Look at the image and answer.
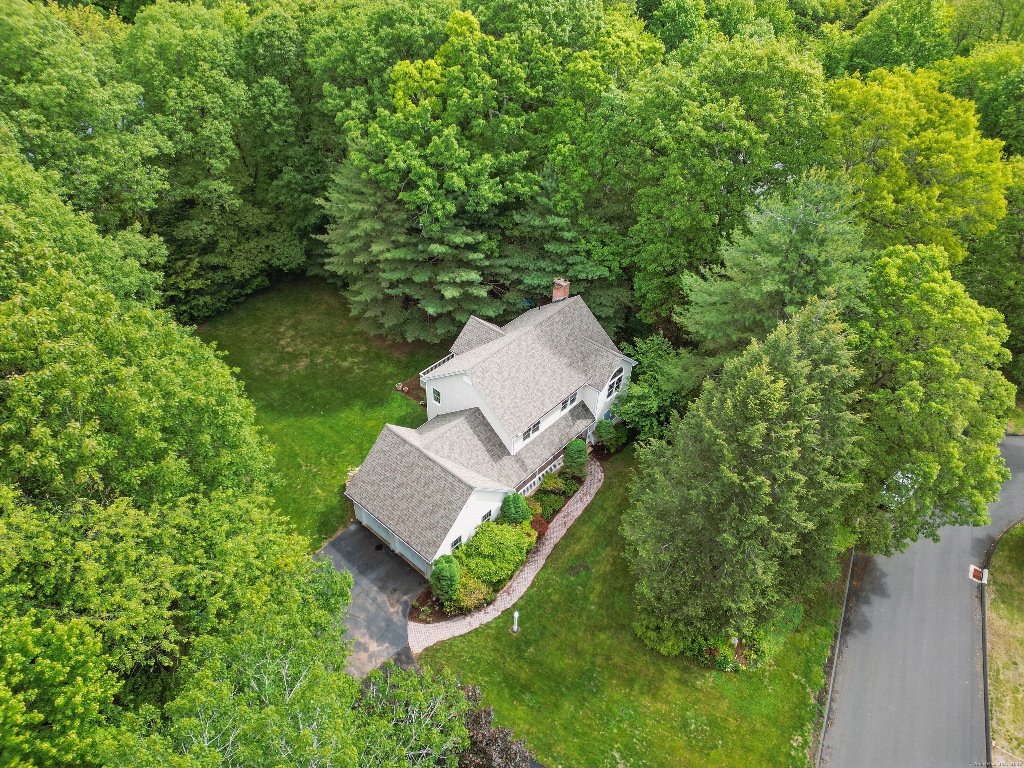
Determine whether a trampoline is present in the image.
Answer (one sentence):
No, there's no trampoline here.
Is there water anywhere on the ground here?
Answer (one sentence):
No, the scene doesn't show any water.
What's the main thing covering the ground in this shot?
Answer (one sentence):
For the most part, this view shows trees.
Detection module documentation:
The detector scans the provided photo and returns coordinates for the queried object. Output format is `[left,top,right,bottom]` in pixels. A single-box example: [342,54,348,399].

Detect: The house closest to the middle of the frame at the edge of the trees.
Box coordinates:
[344,277,639,582]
